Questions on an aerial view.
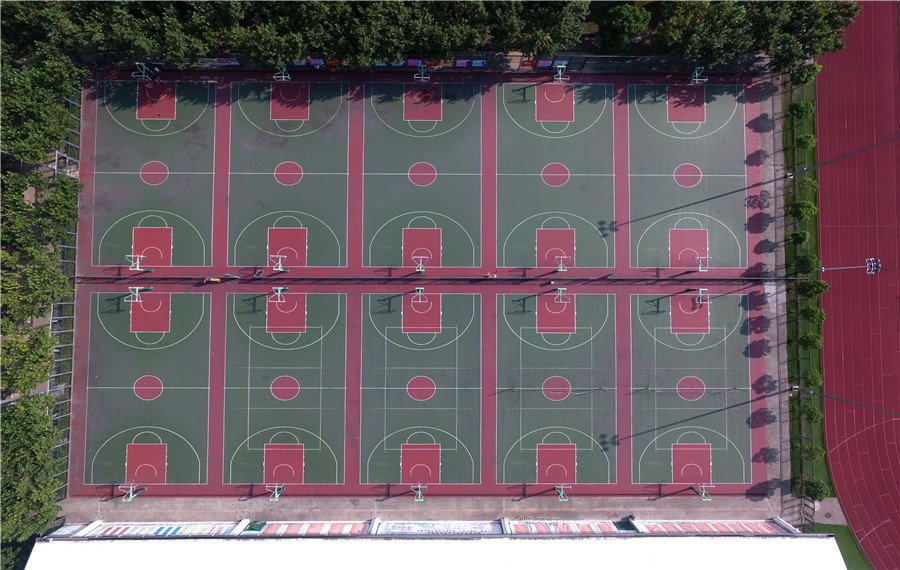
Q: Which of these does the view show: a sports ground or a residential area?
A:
sports ground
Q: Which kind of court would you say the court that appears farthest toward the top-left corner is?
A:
basketball court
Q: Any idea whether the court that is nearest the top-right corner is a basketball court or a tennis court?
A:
basketball court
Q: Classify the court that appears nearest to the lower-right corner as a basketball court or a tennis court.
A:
basketball court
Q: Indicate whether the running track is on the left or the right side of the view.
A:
right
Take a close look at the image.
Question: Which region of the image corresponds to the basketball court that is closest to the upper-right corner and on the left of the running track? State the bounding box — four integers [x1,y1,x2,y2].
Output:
[627,84,748,268]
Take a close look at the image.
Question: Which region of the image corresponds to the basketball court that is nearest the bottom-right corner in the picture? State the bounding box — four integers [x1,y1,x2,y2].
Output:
[630,294,752,484]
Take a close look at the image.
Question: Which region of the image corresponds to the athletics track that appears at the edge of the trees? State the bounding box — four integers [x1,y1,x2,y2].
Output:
[814,0,900,570]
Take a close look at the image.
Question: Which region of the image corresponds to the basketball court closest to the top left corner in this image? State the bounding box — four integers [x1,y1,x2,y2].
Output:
[91,80,216,266]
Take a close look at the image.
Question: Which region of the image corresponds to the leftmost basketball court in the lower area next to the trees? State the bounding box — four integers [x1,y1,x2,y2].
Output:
[84,292,212,484]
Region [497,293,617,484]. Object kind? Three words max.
basketball court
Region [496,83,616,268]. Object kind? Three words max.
basketball court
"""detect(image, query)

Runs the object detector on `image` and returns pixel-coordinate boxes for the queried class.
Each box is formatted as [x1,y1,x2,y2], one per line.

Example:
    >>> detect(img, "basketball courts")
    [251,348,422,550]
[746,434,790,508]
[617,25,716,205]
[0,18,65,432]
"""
[627,84,748,268]
[91,80,216,266]
[84,292,212,484]
[359,293,482,484]
[227,82,349,267]
[222,292,347,484]
[630,294,752,484]
[496,83,616,268]
[362,83,482,267]
[497,293,617,484]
